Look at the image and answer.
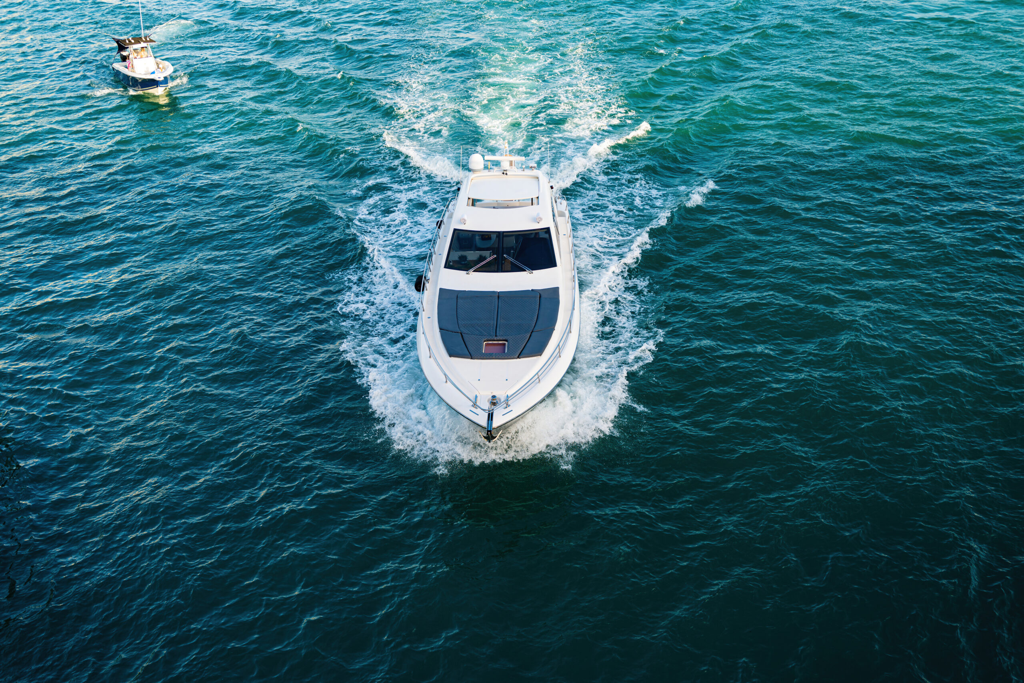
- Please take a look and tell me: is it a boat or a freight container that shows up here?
boat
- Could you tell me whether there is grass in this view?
No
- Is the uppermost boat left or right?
left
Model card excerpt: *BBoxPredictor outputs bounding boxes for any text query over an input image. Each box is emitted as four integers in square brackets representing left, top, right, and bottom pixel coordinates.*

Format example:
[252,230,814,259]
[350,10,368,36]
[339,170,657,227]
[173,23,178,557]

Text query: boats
[417,135,581,452]
[56,2,174,95]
